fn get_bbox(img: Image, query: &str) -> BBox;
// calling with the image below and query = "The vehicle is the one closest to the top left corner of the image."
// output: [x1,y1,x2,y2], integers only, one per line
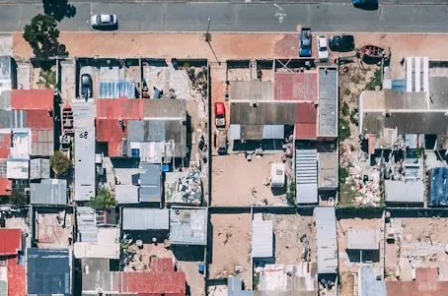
[90,12,116,26]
